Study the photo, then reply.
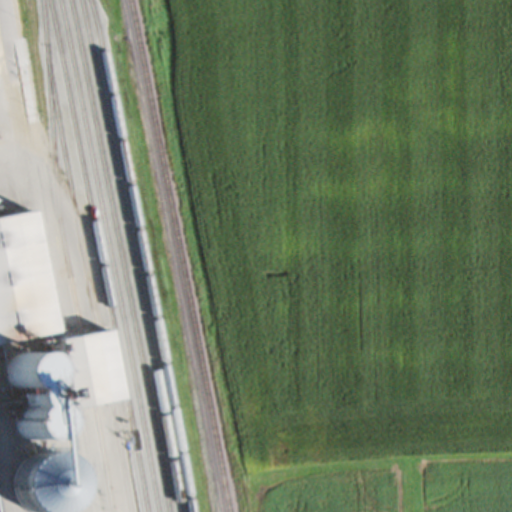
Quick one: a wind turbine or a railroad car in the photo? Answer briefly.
railroad car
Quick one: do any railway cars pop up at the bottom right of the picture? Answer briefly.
No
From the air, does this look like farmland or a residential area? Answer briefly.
farmland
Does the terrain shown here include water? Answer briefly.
No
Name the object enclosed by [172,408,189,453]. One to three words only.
rail car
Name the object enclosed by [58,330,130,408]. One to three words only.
shed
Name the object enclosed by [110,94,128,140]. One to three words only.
rail car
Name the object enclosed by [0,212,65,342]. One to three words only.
shed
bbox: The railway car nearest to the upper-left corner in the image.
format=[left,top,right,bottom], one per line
[102,49,119,94]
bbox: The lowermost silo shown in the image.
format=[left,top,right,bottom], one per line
[14,450,100,512]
